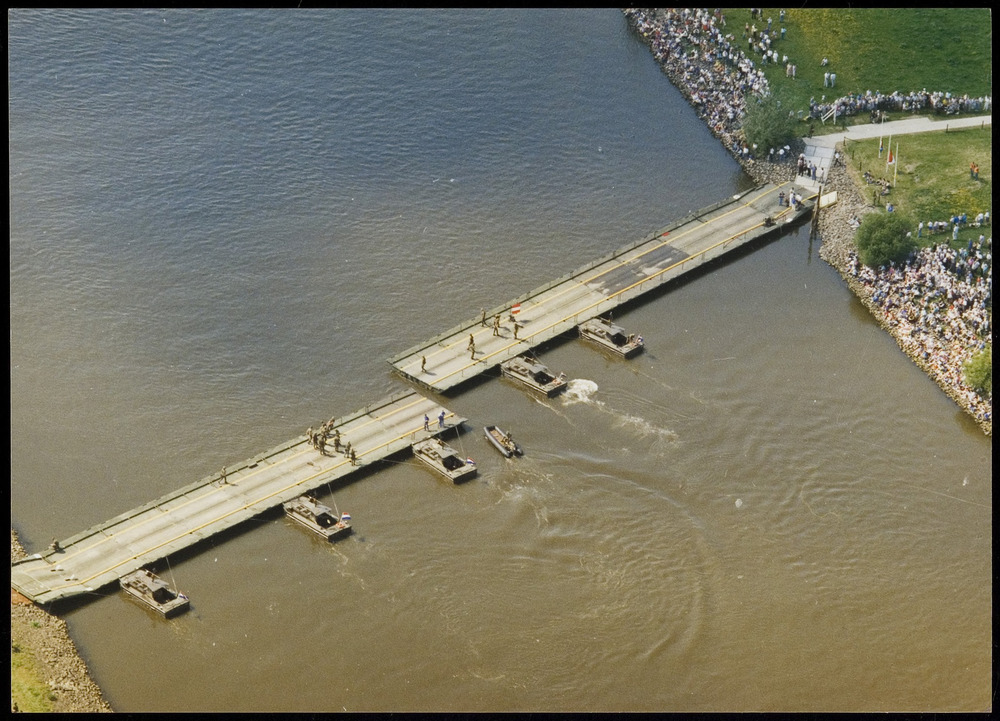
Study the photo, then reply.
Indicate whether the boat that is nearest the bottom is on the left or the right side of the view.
left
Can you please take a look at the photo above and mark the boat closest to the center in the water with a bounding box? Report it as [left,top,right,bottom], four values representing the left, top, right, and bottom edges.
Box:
[505,352,567,401]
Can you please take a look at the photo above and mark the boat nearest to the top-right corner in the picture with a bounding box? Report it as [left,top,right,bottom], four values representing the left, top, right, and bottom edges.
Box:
[583,314,646,360]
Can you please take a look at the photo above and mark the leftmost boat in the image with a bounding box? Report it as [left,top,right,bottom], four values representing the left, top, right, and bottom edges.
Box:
[128,556,191,623]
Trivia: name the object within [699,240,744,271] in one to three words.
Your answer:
pier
